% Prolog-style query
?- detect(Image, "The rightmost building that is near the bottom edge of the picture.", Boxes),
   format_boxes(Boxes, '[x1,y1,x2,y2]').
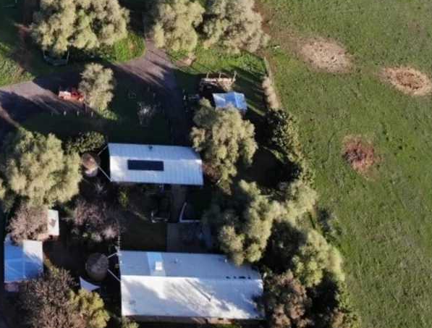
[112,245,267,327]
